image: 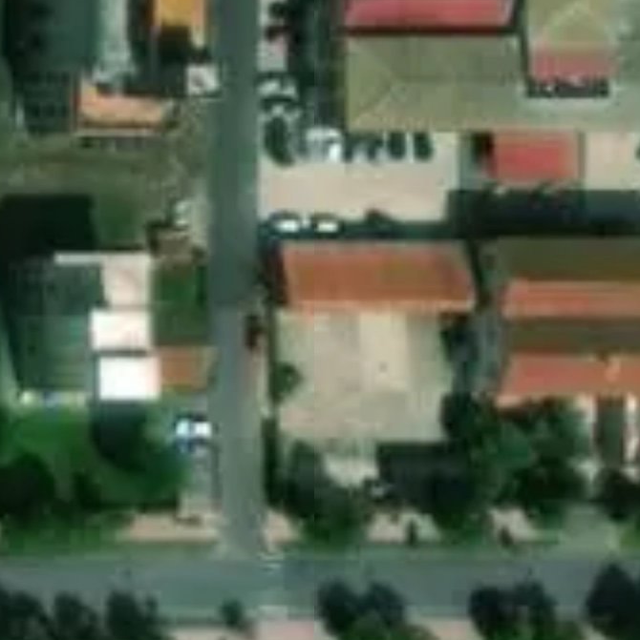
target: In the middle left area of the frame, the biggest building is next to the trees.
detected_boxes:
[21,252,163,399]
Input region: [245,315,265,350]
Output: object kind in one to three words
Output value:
car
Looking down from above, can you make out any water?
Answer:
No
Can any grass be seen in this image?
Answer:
Yes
